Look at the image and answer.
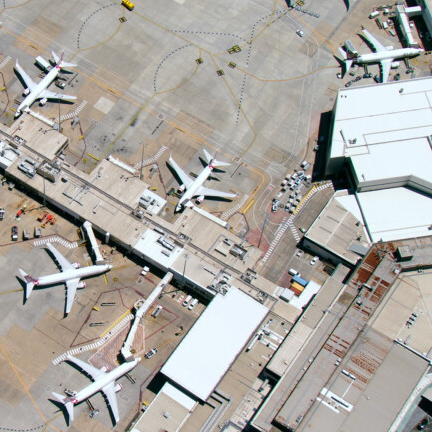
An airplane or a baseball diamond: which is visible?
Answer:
airplane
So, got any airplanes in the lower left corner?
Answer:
Yes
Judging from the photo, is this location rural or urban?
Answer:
urban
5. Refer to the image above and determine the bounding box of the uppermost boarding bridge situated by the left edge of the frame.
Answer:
[19,103,60,133]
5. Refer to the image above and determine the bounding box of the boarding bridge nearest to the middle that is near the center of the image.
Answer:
[178,196,230,230]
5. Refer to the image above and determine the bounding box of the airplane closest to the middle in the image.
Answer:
[170,149,237,212]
